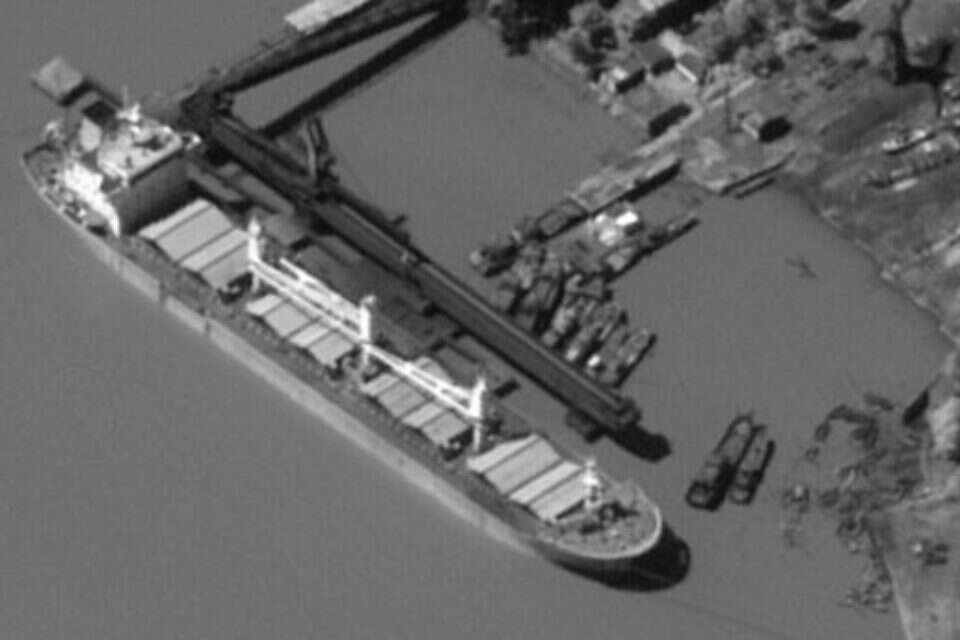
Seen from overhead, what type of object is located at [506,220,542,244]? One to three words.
boat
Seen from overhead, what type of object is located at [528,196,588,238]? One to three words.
ship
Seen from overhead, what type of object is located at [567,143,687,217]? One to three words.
pier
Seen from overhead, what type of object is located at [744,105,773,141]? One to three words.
house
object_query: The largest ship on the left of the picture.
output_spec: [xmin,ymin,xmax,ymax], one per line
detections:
[23,94,666,568]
